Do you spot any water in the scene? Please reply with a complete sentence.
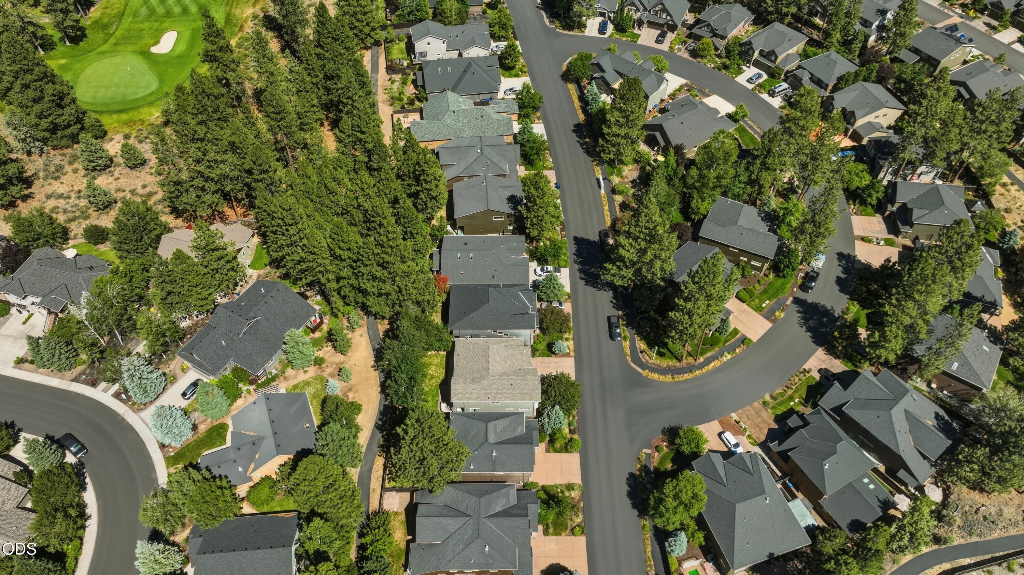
No, no water is visible.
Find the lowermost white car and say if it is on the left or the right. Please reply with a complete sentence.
The lowermost white car appears in the right half of the scene.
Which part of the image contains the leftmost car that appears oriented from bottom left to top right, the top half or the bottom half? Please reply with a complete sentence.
It is in the bottom half that the leftmost car that appears oriented from bottom left to top right appears.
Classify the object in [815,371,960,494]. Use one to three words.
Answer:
house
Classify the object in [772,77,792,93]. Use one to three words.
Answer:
vehicle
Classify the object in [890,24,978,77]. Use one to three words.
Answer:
house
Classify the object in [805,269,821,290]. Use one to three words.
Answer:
vehicle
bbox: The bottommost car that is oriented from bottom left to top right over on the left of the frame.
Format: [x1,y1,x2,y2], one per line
[179,376,203,398]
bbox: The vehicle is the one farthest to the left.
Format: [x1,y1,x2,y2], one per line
[60,431,85,455]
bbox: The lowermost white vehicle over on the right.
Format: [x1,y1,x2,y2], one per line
[721,428,745,453]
